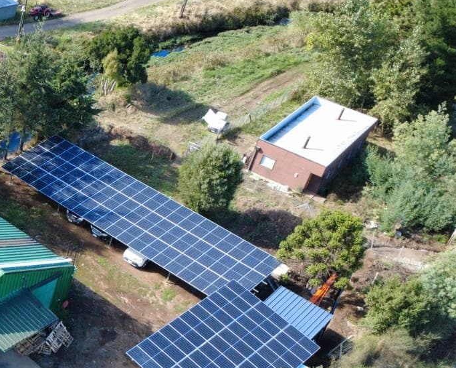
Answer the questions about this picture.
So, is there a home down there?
Yes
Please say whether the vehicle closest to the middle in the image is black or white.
white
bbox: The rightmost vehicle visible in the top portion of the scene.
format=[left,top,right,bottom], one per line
[203,110,242,136]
